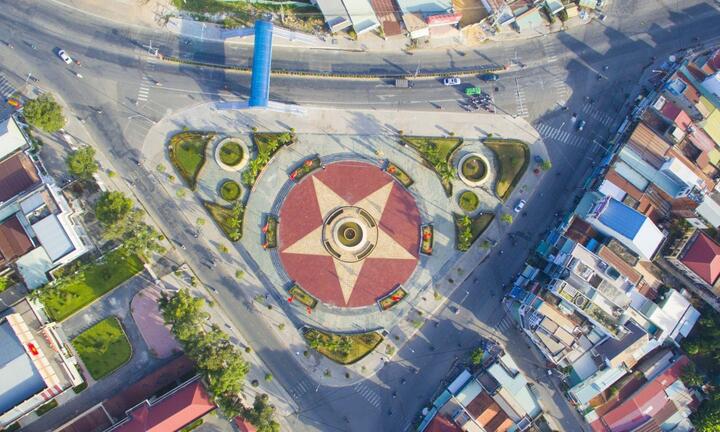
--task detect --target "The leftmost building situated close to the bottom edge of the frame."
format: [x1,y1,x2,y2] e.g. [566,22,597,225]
[0,311,68,426]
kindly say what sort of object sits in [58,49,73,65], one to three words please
car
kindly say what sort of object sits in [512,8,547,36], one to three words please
house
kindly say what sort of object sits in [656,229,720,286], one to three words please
house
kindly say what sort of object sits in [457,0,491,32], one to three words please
building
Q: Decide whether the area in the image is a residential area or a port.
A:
residential area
